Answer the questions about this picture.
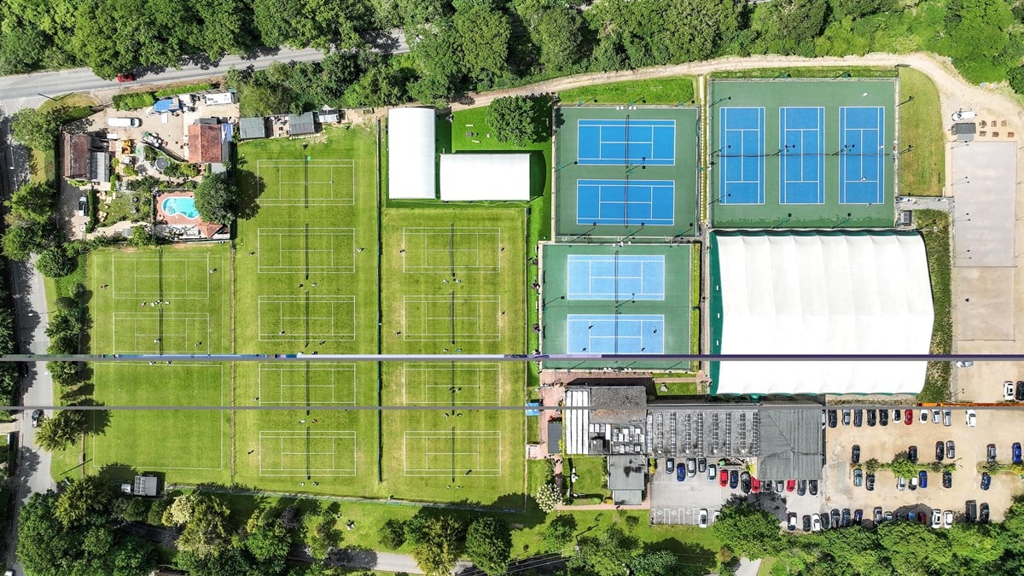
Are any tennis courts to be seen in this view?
Yes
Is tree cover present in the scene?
Yes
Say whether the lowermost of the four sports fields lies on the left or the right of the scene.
left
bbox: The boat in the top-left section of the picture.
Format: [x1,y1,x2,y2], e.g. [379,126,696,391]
[156,99,181,112]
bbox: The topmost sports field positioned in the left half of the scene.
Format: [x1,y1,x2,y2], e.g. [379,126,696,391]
[95,255,223,360]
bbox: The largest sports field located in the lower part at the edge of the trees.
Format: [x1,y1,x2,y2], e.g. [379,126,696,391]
[94,364,222,469]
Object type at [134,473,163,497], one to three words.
shed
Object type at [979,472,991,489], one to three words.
vehicle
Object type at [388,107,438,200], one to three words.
building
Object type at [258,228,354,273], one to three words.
tennis court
